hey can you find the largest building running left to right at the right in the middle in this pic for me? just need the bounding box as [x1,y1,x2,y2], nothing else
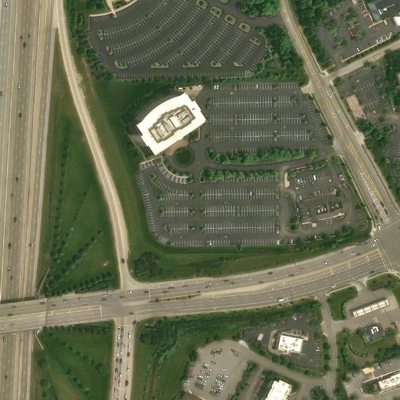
[300,201,345,224]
